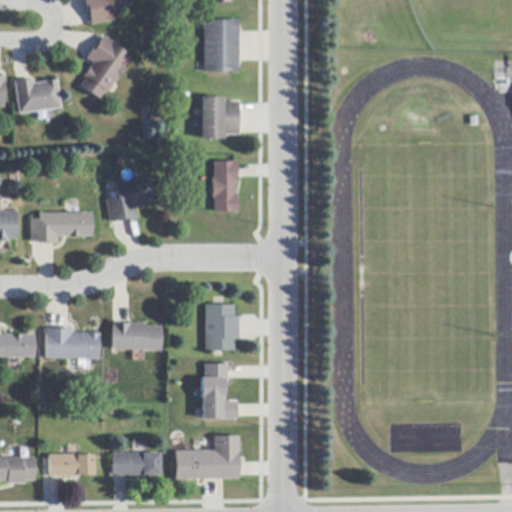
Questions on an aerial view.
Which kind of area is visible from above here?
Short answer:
sports ground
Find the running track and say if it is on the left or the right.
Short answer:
right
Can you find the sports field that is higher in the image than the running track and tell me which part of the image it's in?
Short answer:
top right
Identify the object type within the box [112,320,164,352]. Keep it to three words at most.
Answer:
house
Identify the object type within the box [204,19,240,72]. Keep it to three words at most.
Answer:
house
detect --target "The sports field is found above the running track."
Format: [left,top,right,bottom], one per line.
[412,0,512,50]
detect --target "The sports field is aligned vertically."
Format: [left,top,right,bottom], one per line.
[352,76,496,464]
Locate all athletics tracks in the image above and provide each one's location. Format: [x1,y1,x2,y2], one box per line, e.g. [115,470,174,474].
[334,58,512,484]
